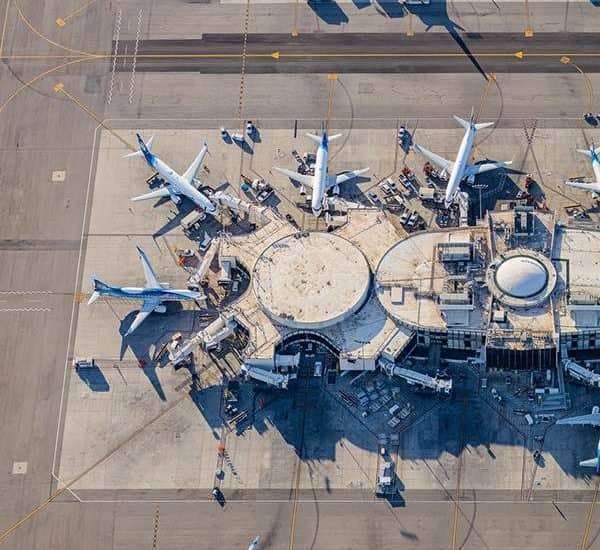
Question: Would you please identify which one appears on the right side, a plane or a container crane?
plane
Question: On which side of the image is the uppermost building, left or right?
right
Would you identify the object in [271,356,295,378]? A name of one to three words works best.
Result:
jet bridge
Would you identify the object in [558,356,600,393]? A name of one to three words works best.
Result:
jet bridge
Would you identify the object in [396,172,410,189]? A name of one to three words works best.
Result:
vehicle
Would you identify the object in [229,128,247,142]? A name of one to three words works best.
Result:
vehicle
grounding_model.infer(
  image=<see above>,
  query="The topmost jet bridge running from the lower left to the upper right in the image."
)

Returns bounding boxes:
[186,234,225,287]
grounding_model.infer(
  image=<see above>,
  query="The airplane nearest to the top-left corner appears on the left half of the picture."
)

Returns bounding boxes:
[129,141,216,213]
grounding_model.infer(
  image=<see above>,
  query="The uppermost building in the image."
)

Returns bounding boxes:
[217,205,600,374]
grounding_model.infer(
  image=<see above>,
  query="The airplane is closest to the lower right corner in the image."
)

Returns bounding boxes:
[553,392,600,469]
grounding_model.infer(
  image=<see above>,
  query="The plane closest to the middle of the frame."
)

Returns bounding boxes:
[273,126,370,217]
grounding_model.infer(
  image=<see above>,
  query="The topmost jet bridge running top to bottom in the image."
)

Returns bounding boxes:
[451,185,470,228]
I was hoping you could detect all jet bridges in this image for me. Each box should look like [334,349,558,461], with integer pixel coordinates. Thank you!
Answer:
[211,193,267,223]
[451,185,470,228]
[271,356,295,378]
[375,358,458,397]
[324,196,368,218]
[240,360,297,394]
[186,234,225,287]
[164,300,234,367]
[558,356,600,393]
